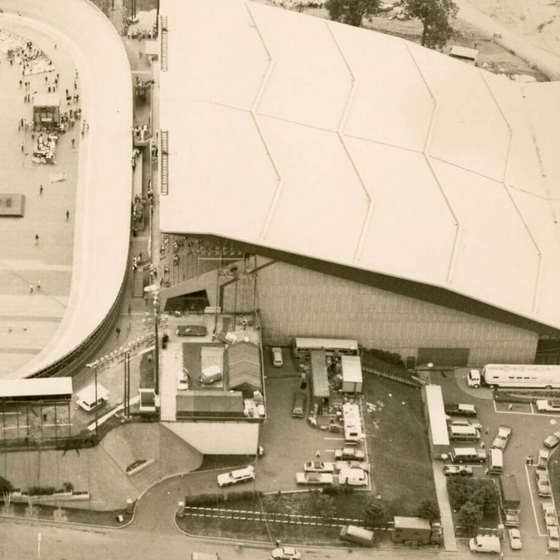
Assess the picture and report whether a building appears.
Yes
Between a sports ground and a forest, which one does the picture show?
sports ground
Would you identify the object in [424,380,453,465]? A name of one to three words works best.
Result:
trailer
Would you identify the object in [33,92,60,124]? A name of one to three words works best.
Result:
building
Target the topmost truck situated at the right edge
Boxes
[464,367,560,394]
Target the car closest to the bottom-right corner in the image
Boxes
[547,524,560,548]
